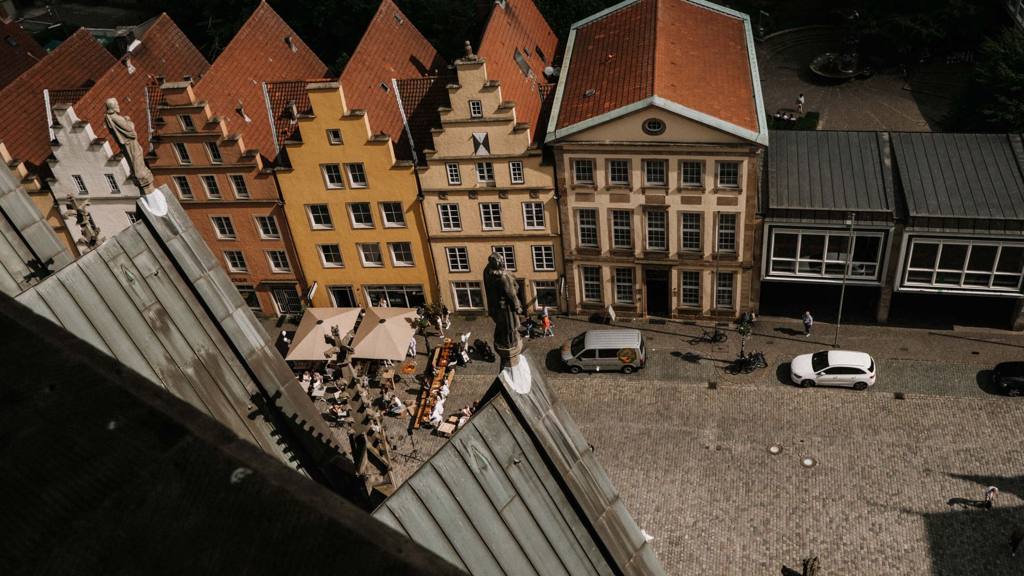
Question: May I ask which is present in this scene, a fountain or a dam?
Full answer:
I can see a fountain in this picture.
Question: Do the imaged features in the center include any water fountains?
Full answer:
No, looking in the center, there is no water fountain.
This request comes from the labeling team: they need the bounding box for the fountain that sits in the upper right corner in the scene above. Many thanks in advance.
[811,36,874,85]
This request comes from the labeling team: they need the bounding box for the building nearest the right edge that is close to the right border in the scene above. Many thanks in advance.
[893,133,1024,297]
